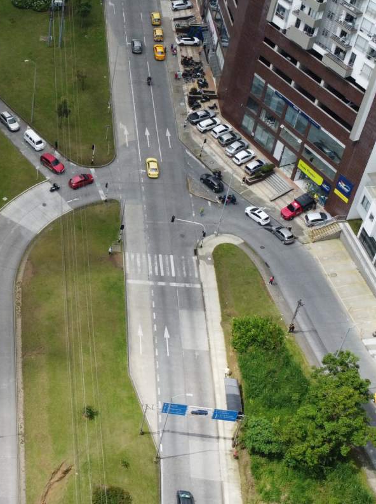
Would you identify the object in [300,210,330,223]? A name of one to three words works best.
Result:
vehicle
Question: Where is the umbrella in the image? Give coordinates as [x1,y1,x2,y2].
[183,23,203,37]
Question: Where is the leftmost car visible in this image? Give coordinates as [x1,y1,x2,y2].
[0,111,19,131]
